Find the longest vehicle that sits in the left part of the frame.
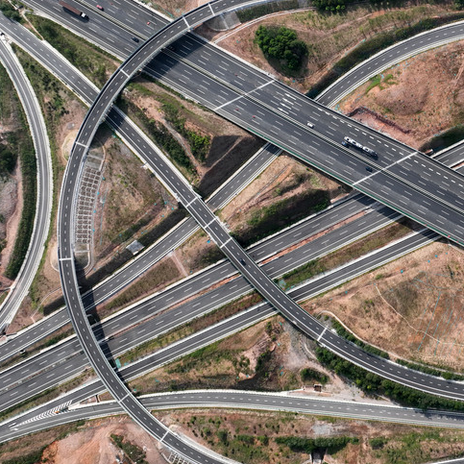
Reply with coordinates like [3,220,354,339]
[61,2,88,19]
